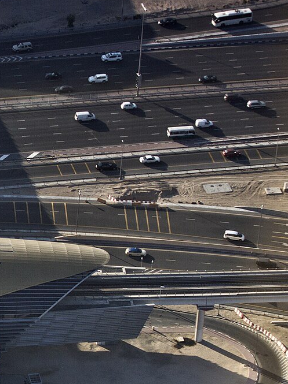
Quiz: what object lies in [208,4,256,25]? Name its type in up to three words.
bus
